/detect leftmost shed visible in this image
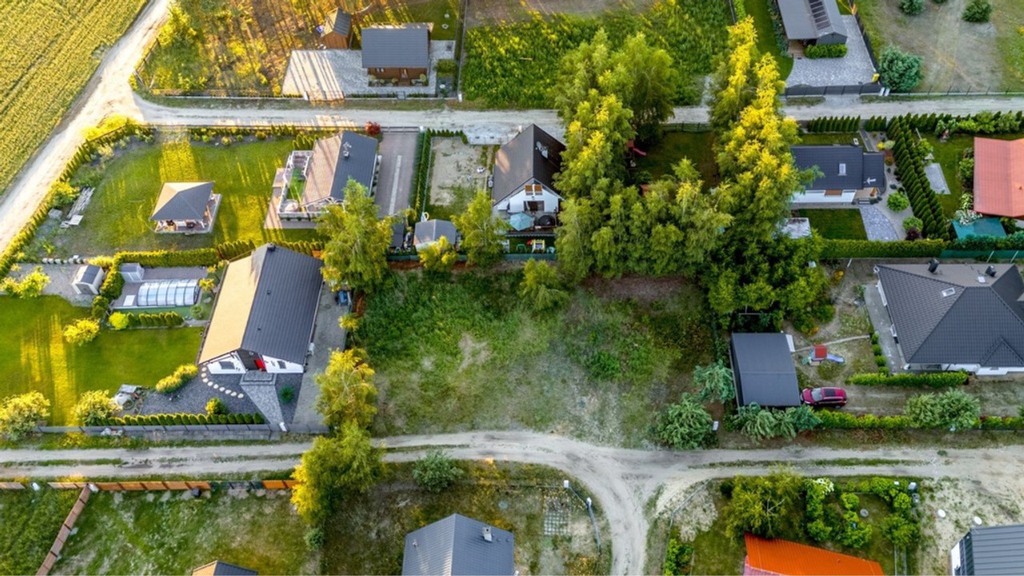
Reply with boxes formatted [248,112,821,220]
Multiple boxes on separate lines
[67,263,103,296]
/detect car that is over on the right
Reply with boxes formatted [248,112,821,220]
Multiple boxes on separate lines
[802,388,853,411]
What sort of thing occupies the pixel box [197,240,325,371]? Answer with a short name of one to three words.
house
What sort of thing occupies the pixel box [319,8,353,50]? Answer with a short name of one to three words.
shed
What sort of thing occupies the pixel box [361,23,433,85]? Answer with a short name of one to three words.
building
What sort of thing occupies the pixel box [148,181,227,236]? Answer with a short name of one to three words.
gazebo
